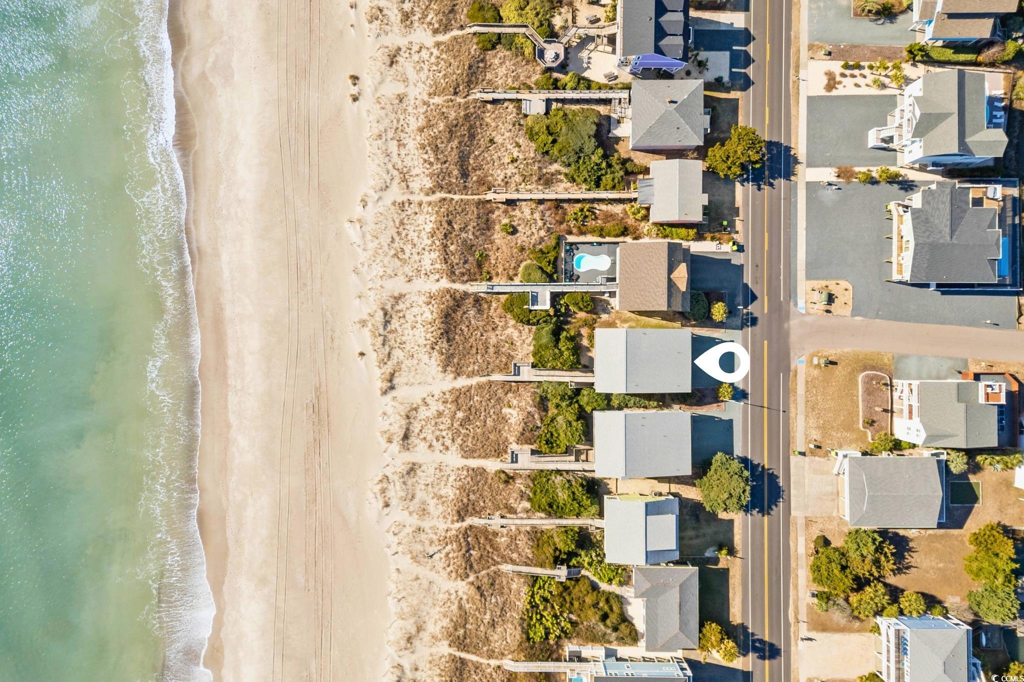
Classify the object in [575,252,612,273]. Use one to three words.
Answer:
swimming pool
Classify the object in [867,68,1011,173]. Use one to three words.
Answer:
house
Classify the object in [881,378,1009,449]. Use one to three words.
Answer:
house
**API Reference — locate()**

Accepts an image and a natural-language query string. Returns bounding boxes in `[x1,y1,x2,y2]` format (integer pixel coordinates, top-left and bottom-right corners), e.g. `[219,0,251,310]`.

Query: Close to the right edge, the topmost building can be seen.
[904,0,1019,55]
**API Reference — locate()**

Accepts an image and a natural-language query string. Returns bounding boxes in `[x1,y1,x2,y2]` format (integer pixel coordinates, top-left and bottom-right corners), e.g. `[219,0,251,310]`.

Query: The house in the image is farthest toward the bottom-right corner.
[873,610,969,682]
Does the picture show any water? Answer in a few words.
Yes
